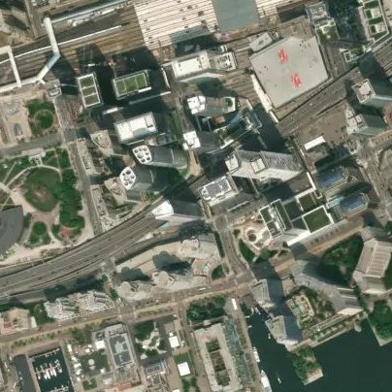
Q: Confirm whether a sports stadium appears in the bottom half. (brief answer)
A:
No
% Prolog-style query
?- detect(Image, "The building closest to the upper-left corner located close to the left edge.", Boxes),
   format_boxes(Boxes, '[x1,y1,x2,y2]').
[0,6,24,37]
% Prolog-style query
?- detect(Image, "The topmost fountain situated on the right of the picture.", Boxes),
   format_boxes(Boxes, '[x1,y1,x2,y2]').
[244,227,261,245]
